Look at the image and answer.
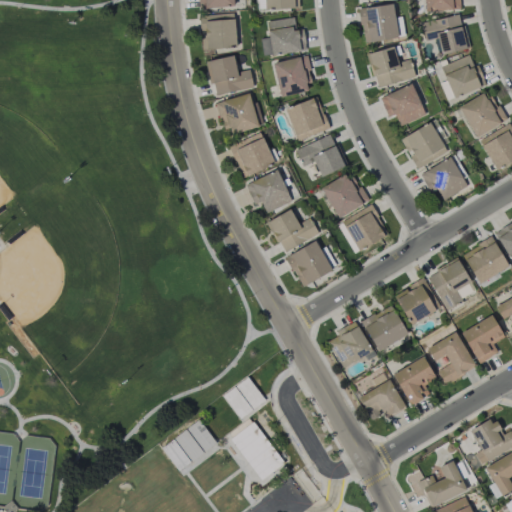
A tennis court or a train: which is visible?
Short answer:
tennis court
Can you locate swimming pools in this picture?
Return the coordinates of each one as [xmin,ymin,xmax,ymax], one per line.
[406,42,417,57]
[424,43,432,58]
[276,114,292,136]
[415,320,436,332]
[346,362,366,377]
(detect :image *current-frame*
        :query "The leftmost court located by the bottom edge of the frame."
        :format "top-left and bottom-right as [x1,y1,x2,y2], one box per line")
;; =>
[0,432,20,504]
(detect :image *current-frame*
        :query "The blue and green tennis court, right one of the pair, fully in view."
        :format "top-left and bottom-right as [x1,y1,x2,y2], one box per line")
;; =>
[16,436,57,508]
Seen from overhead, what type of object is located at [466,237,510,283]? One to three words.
house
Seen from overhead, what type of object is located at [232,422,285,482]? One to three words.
building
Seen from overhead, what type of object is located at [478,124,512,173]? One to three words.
house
